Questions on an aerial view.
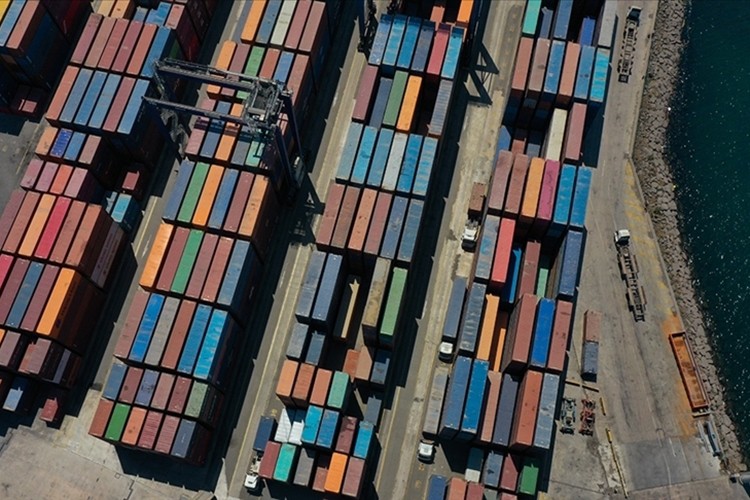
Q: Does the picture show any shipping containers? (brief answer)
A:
Yes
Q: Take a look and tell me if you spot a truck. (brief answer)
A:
Yes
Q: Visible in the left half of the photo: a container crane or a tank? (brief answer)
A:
container crane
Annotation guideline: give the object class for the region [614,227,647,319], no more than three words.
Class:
truck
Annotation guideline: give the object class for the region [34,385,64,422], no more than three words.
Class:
shipping container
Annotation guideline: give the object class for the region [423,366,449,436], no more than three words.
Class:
shipping container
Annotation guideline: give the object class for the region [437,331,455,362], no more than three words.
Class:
vehicle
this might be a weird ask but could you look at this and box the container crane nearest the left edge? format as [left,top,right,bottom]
[141,59,311,193]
